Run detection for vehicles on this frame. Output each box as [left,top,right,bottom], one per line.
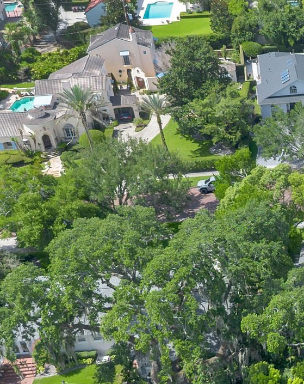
[121,109,136,119]
[194,179,230,199]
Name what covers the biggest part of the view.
trees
